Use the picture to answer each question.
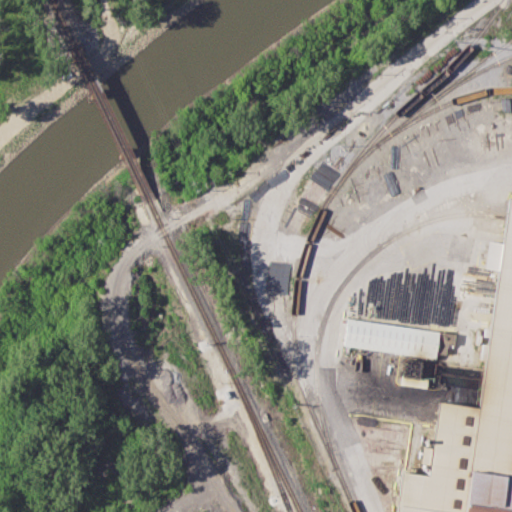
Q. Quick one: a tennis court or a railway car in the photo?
railway car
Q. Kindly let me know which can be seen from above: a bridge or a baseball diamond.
bridge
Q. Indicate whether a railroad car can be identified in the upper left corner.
No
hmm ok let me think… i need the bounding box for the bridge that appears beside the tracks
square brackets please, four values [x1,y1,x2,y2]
[88,80,162,207]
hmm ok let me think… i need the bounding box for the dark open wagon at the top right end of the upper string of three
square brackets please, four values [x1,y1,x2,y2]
[448,45,474,74]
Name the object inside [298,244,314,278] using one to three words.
rail car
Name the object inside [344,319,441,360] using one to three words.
shed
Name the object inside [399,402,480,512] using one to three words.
building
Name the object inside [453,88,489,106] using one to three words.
rail car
